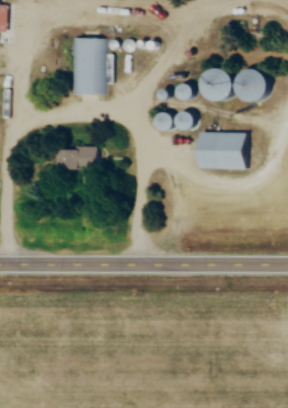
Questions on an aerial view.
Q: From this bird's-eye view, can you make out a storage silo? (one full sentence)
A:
Yes, a storage silo is visible in the scene.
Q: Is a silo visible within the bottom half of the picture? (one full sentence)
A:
No, there's no silo to be seen within the bottom half of the picture.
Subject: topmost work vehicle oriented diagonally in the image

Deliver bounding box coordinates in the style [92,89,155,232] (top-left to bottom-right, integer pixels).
[150,0,170,20]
